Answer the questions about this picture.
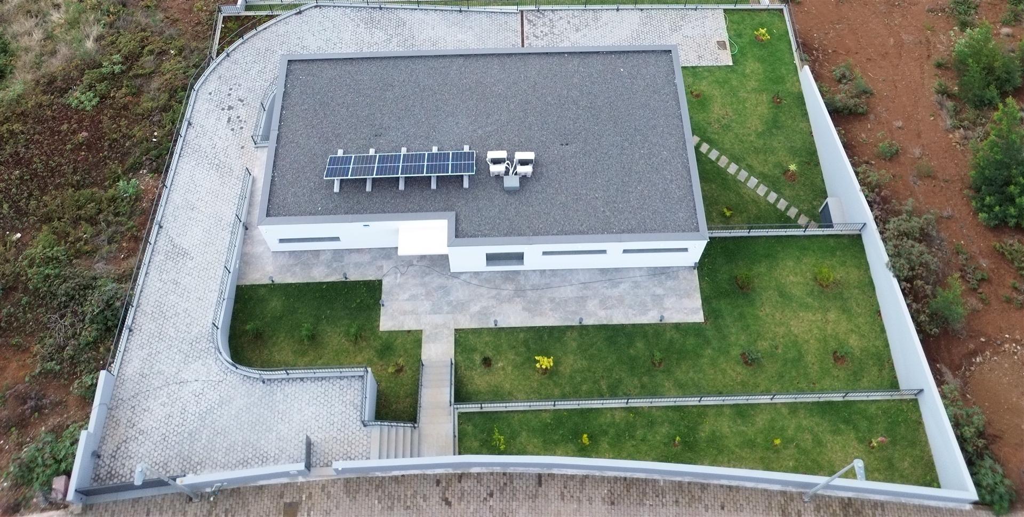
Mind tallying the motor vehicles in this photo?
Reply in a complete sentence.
Not a single motor vehicle can be seen.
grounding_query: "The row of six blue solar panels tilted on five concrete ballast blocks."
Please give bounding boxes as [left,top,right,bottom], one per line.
[324,146,476,194]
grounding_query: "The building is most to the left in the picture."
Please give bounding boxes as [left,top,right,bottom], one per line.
[259,45,708,274]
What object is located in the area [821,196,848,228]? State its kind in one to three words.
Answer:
shed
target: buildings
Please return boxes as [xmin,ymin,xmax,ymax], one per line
[259,45,708,274]
[821,196,848,228]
